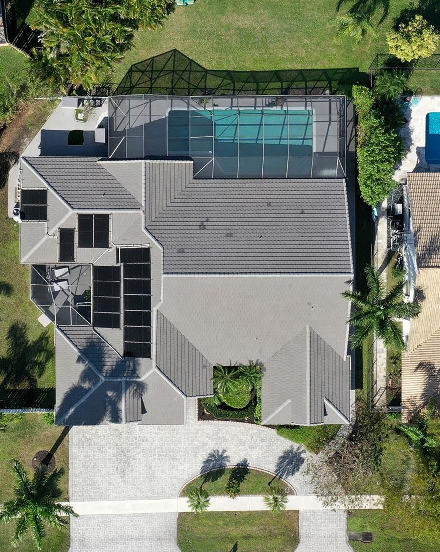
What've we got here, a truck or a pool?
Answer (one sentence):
The image shows a pool.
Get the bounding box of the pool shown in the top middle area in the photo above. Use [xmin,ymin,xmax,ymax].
[169,110,312,176]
